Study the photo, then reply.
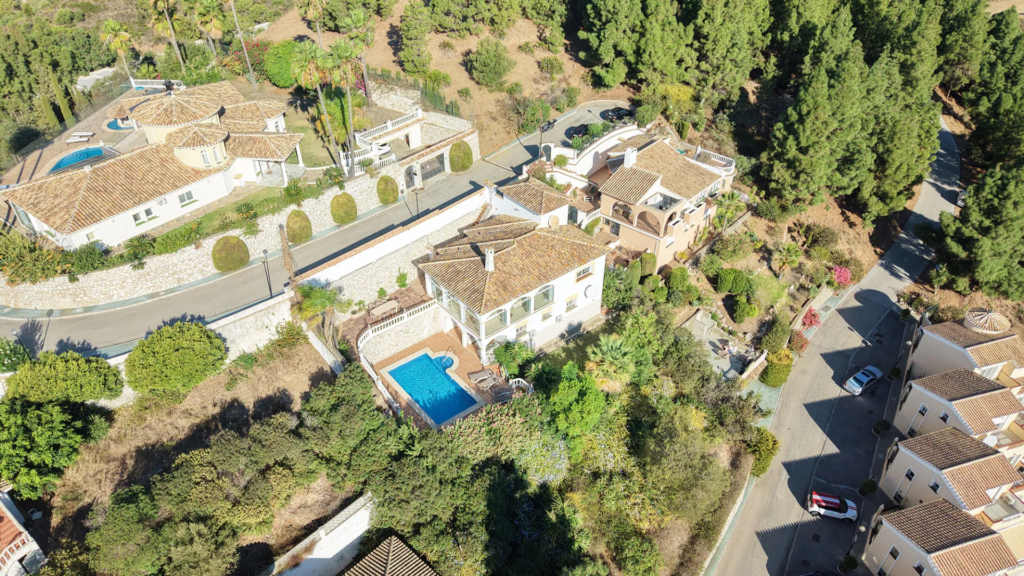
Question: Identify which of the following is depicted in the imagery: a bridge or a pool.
pool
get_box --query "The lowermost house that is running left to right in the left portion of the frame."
[344,535,436,576]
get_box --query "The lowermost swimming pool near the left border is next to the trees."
[44,142,114,174]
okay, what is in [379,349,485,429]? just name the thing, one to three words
swimming pool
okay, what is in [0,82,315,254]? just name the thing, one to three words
house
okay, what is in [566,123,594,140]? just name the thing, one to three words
car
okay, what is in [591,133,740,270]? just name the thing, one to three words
house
